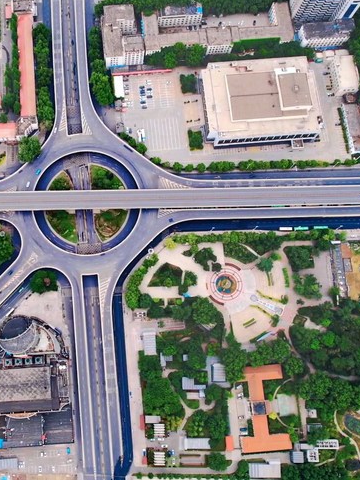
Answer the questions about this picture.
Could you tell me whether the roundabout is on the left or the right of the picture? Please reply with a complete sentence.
You can find the roundabout on the left side of the picture.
